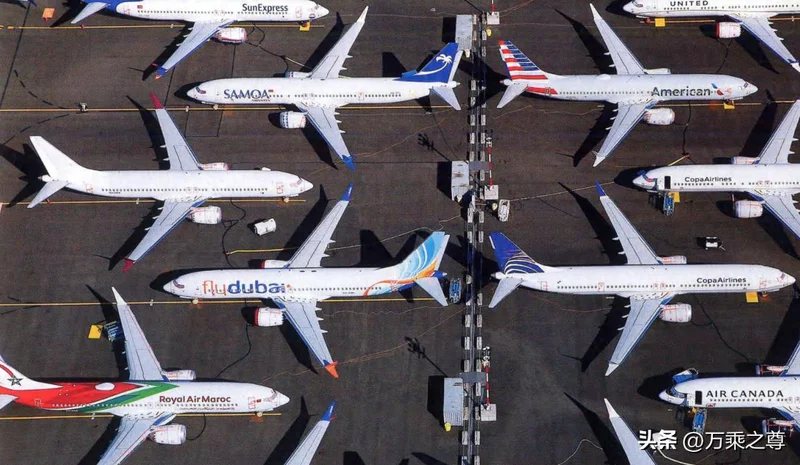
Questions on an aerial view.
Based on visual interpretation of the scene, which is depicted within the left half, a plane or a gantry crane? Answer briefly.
plane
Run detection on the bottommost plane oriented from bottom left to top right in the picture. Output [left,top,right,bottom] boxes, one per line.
[290,400,337,465]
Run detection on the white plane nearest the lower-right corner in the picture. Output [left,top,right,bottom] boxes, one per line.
[659,347,800,438]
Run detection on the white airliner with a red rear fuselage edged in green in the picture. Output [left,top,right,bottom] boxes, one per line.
[0,288,289,465]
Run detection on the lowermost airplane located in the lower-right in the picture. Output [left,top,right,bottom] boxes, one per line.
[602,399,651,465]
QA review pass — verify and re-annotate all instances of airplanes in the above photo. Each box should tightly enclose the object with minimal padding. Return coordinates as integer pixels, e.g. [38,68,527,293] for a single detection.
[290,400,337,465]
[633,98,800,238]
[186,7,465,170]
[485,181,796,377]
[659,347,800,438]
[495,4,758,167]
[71,0,329,80]
[28,92,312,271]
[163,182,451,378]
[625,0,800,67]
[602,399,651,465]
[0,288,289,465]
